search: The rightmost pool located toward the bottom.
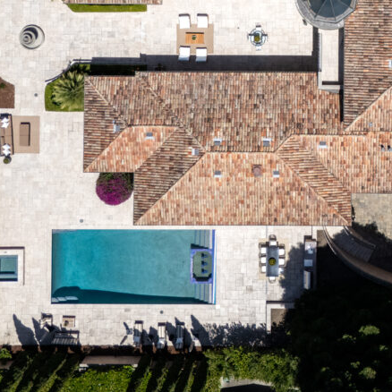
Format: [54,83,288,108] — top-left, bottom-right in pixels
[47,226,219,309]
